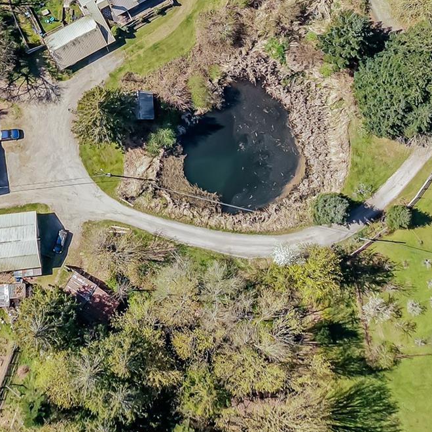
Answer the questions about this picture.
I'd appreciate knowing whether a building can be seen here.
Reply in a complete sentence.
Yes, the photo shows a building.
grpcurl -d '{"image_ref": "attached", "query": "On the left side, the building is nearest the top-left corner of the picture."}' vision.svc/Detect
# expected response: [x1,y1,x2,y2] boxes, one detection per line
[44,15,105,70]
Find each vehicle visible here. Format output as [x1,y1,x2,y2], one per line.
[52,227,68,256]
[0,129,24,142]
